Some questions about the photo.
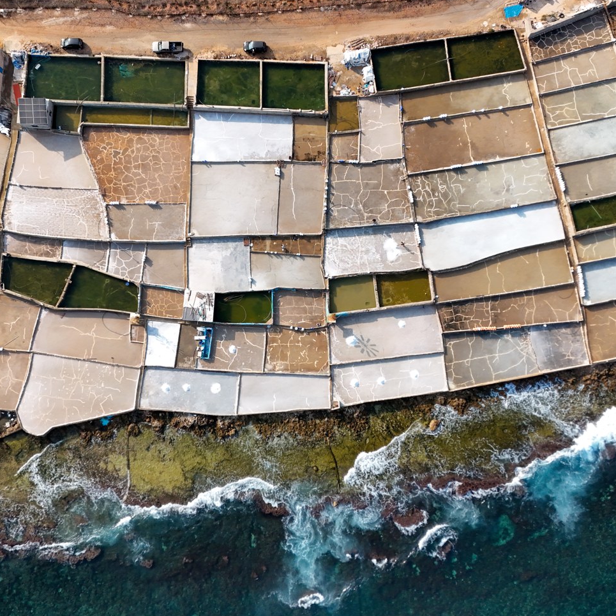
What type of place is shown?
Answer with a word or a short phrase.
industrial area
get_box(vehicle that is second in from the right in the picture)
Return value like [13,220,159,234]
[149,37,185,54]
